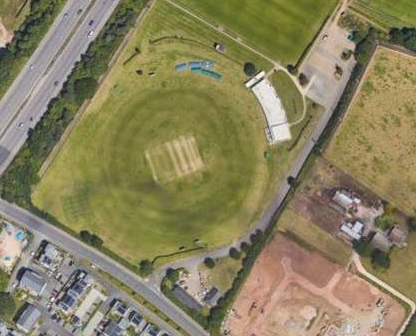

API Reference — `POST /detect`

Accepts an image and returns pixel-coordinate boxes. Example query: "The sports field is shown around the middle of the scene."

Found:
[34,0,311,276]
